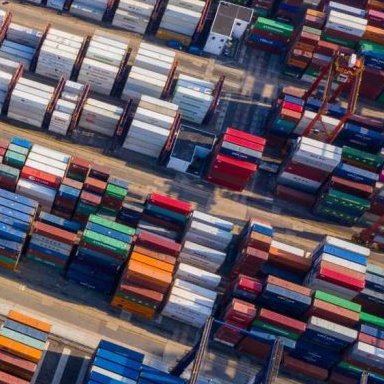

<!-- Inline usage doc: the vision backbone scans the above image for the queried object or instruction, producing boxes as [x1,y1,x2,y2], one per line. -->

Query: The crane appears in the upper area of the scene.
[287,47,368,154]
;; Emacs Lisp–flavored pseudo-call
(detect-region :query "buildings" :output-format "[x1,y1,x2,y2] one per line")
[166,124,216,174]
[203,1,253,55]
